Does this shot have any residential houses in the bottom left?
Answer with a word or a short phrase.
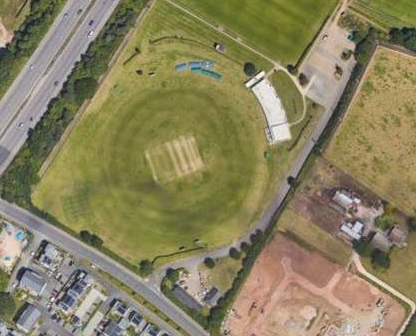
Yes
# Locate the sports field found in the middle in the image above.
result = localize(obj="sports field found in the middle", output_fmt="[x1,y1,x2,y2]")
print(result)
[34,0,311,276]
